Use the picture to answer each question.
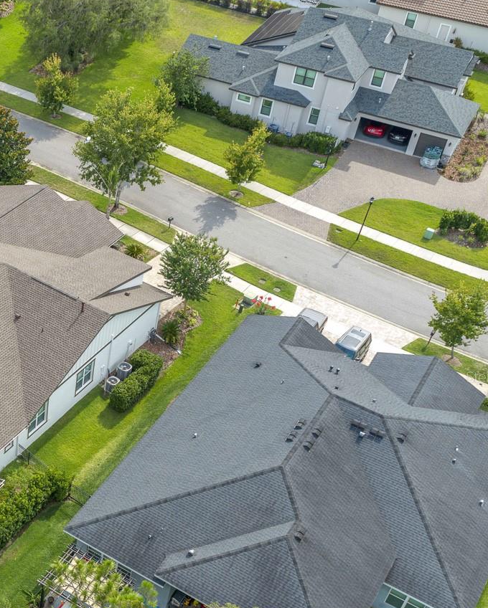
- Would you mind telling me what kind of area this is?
residential area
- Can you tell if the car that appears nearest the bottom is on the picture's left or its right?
right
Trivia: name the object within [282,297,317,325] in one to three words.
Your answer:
car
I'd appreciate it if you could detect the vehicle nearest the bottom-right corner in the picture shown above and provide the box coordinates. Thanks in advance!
[331,324,366,359]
